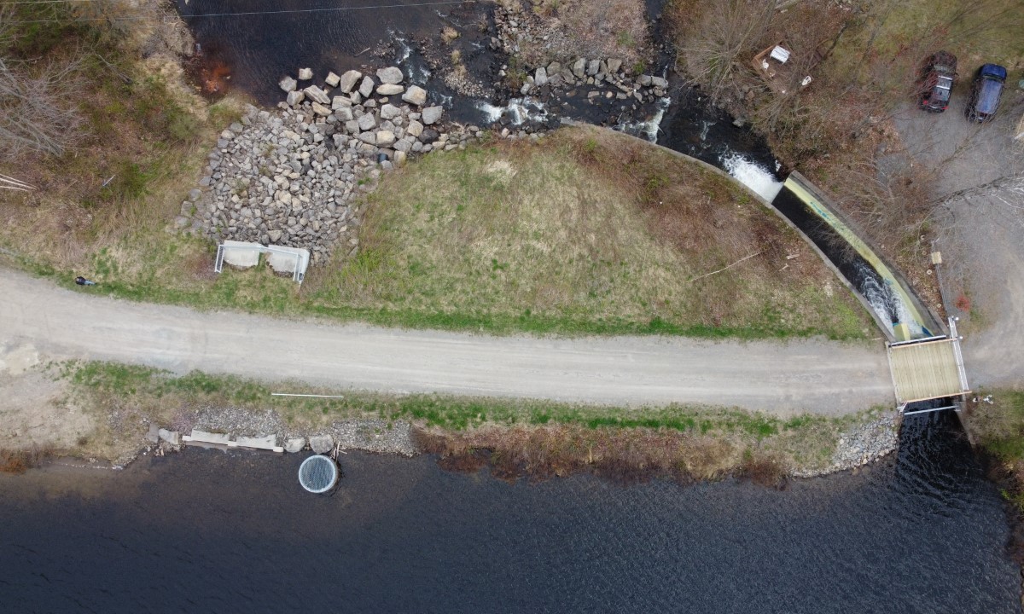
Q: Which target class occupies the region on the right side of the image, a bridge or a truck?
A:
bridge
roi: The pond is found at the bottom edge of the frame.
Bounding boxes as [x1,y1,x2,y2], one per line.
[0,394,1024,614]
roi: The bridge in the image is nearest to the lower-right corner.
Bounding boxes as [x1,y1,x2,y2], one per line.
[889,336,969,405]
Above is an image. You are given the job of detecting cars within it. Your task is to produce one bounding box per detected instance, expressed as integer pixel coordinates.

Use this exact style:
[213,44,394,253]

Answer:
[964,62,1007,128]
[917,51,956,116]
